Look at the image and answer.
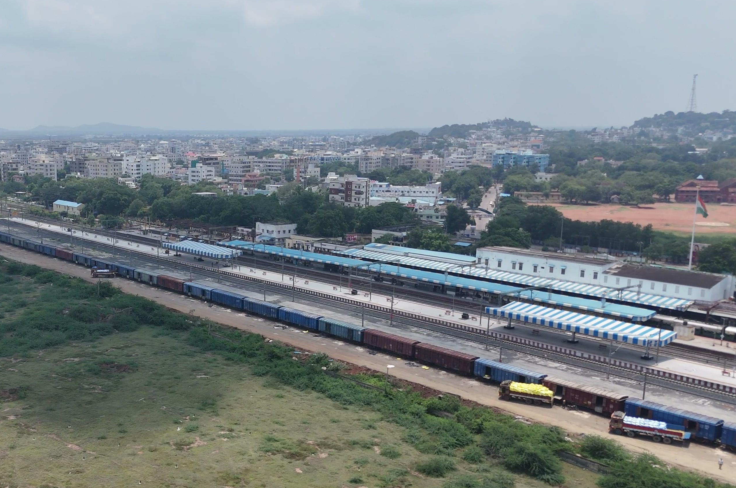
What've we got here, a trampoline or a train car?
train car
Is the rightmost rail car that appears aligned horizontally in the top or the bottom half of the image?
bottom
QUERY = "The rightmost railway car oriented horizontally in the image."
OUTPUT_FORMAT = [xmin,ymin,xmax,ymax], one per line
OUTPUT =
[625,393,726,438]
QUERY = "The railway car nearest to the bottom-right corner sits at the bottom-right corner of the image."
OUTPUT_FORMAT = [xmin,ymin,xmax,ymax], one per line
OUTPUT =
[720,417,736,447]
